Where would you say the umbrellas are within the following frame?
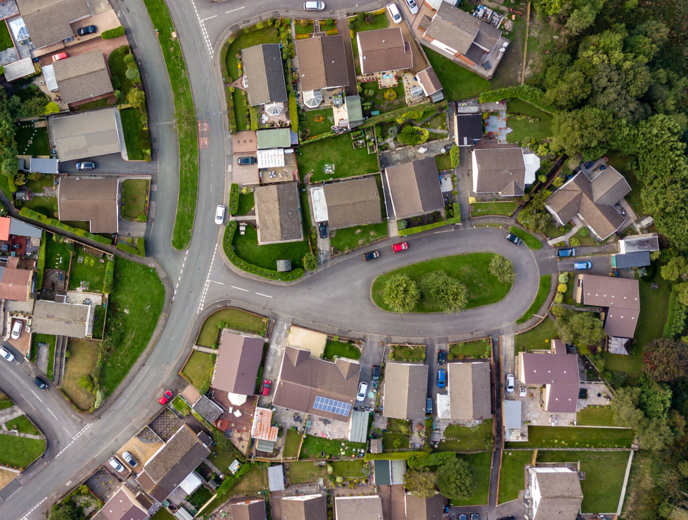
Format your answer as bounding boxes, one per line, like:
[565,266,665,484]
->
[27,237,39,248]
[229,393,246,411]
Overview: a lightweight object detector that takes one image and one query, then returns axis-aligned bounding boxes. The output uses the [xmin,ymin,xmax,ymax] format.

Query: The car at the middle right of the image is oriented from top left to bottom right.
[504,232,522,246]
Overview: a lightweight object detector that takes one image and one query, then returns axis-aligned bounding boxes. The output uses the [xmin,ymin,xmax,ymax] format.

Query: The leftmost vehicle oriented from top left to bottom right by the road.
[0,345,15,363]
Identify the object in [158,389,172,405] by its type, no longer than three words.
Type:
car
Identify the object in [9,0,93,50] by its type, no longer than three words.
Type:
house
